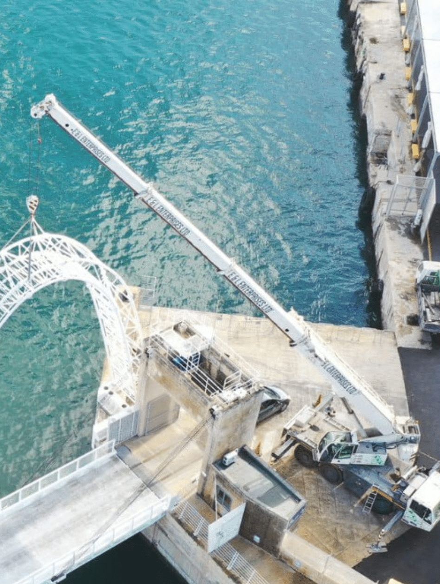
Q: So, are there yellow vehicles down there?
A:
No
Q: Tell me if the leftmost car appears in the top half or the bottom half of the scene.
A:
bottom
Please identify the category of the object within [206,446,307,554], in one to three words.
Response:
shed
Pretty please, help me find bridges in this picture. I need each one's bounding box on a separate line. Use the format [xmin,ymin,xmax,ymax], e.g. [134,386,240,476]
[0,440,169,584]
